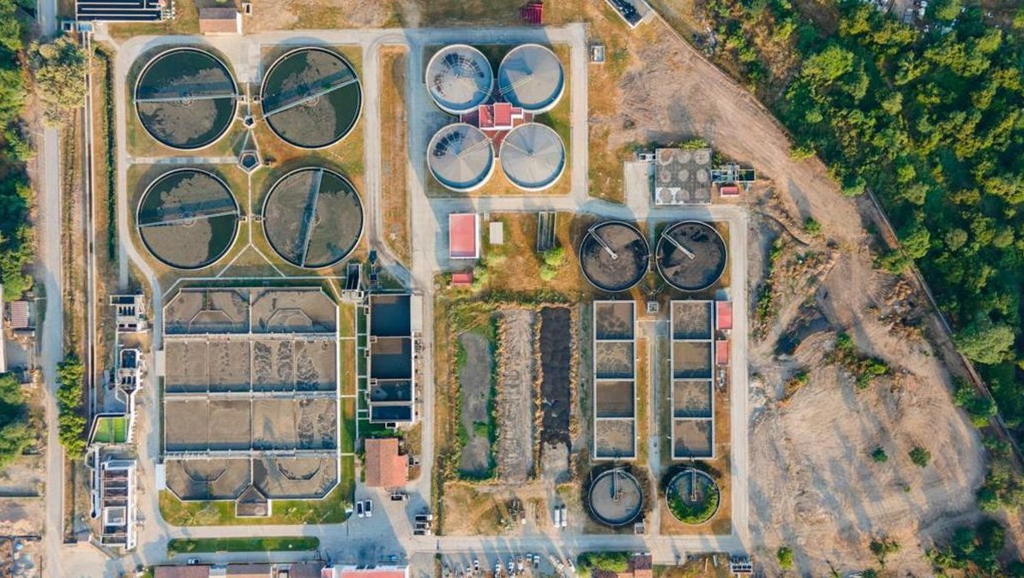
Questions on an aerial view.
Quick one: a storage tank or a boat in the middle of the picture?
storage tank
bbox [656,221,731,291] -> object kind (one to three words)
storage tank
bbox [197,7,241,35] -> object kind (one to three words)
house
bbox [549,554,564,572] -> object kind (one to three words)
vehicle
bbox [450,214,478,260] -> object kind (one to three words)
building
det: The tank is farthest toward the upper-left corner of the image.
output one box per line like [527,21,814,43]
[134,47,242,151]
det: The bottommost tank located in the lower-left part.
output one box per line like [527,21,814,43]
[87,412,137,449]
